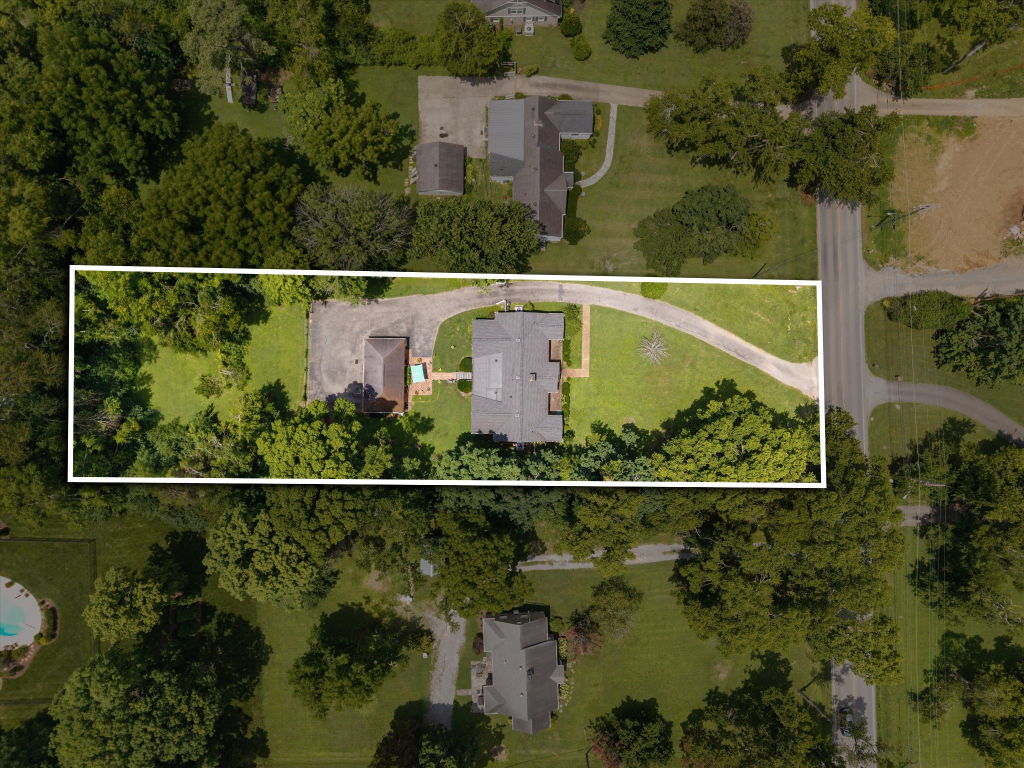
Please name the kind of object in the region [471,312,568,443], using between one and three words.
house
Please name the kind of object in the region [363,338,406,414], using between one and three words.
building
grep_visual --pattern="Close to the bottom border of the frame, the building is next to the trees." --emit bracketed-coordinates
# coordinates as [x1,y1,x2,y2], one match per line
[483,609,565,734]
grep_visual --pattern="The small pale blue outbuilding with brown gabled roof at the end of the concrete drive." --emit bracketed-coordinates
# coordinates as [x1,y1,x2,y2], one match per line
[417,140,464,197]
